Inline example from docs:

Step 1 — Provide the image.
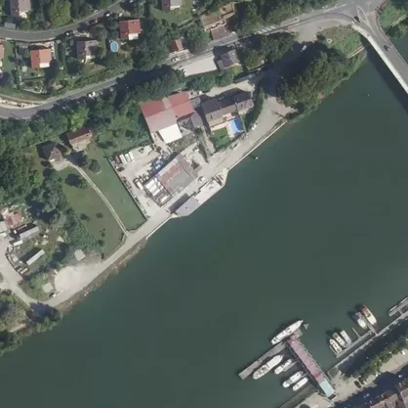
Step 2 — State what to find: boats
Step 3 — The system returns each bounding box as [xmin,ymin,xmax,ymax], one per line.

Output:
[330,339,340,353]
[251,355,284,380]
[274,360,292,374]
[334,334,346,347]
[270,320,304,344]
[282,372,303,387]
[342,331,353,344]
[292,378,307,391]
[362,306,377,324]
[356,314,368,329]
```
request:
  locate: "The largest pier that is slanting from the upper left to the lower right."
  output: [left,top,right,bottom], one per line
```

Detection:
[284,337,335,395]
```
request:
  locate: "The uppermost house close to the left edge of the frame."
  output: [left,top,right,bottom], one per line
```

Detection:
[7,0,30,17]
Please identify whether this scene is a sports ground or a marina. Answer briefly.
marina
